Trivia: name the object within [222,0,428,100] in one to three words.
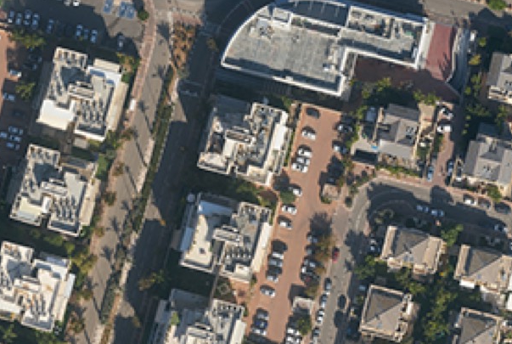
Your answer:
building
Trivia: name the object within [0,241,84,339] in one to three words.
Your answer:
building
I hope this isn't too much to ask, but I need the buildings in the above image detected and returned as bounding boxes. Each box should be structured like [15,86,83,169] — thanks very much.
[222,0,428,100]
[449,307,505,344]
[369,103,423,172]
[147,289,254,344]
[187,93,293,194]
[457,243,512,299]
[461,124,512,195]
[322,184,341,201]
[380,225,446,281]
[10,144,109,244]
[0,241,84,339]
[485,58,512,109]
[35,46,135,148]
[293,295,315,314]
[172,193,279,292]
[361,286,418,344]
